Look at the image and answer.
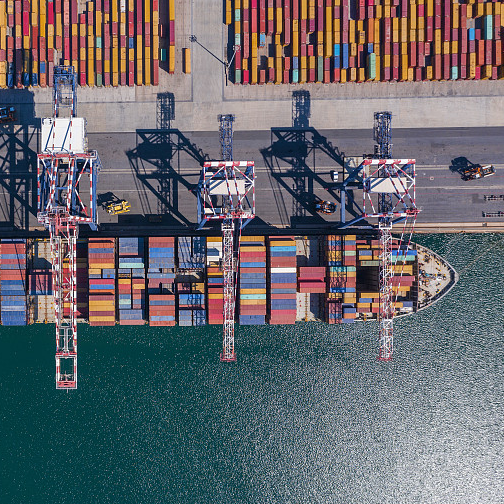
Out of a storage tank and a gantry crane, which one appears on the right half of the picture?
gantry crane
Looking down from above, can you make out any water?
Yes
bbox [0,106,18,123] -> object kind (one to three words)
work vehicle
